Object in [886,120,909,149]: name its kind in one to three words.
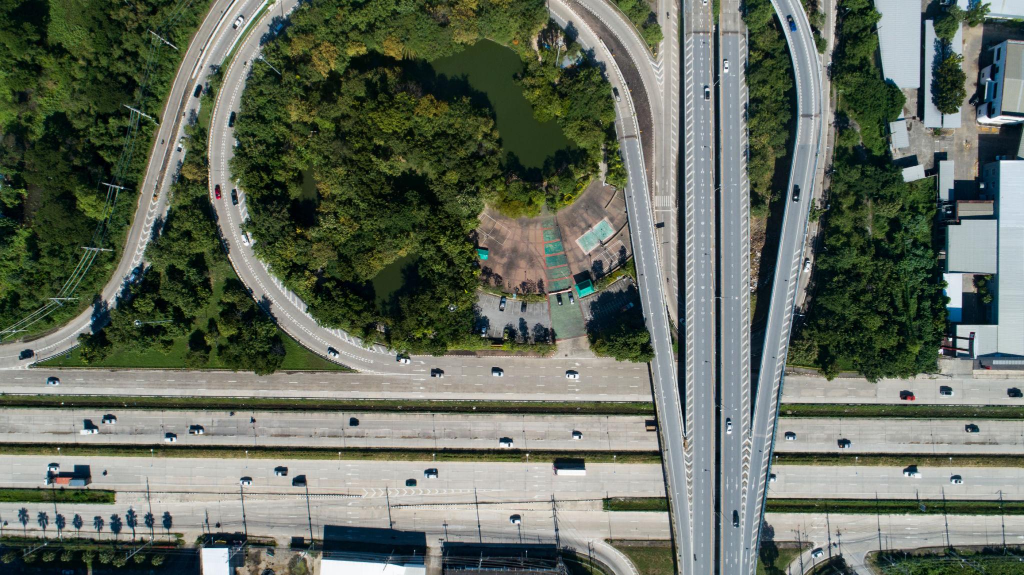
shed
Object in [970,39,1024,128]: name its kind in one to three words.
building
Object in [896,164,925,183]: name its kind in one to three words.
shed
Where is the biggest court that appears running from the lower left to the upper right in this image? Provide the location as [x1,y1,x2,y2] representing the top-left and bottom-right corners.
[576,217,616,254]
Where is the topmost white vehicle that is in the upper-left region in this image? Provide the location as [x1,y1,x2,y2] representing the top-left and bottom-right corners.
[232,15,245,29]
